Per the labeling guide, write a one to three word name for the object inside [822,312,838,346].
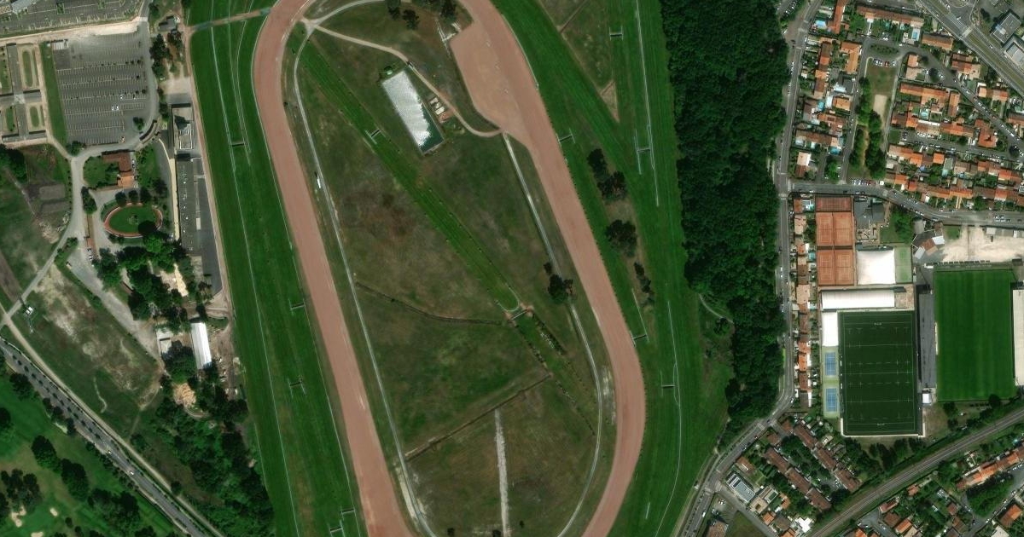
building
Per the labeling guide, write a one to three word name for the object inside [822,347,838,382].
tennis court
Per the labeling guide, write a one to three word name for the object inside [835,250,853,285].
tennis court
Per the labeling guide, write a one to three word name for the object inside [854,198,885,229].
building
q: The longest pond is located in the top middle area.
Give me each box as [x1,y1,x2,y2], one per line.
[381,71,445,155]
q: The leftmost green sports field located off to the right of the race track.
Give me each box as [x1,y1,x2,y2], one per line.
[837,309,926,438]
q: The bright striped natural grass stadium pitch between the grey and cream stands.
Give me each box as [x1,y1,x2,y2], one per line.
[935,269,1016,403]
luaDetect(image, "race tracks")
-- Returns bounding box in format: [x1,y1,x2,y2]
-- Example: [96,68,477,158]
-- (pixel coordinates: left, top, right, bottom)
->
[182,0,725,537]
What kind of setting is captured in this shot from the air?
sports ground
